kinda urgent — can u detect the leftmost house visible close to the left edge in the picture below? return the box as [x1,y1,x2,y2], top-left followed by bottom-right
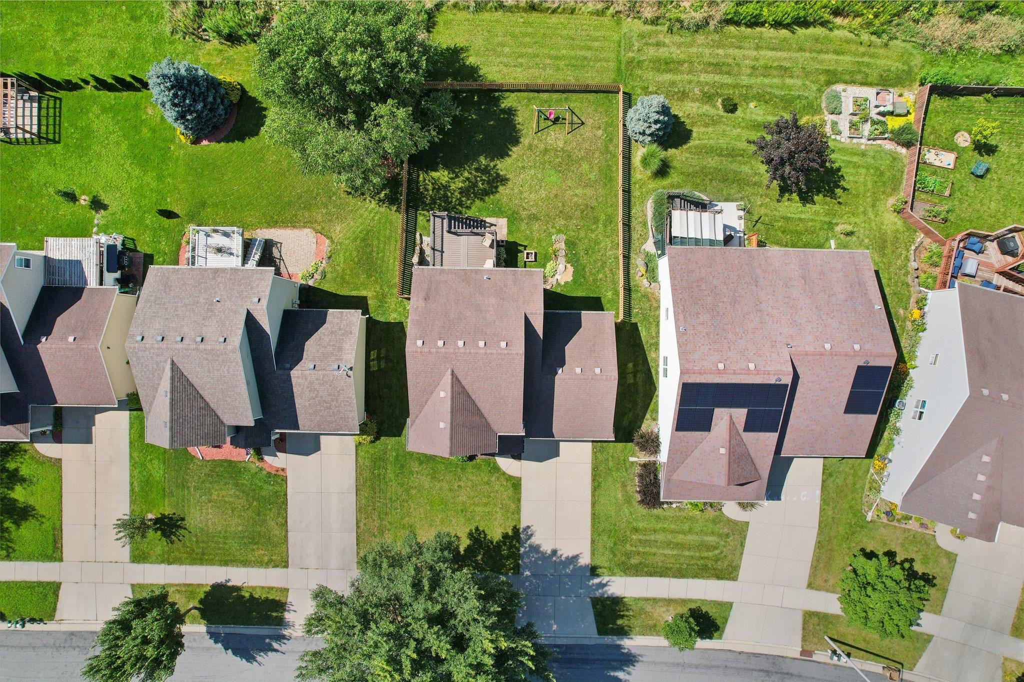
[0,241,138,442]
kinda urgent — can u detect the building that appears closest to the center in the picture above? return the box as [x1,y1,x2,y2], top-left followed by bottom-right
[403,265,619,458]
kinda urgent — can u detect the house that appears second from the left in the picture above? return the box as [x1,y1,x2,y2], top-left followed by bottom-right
[124,265,368,461]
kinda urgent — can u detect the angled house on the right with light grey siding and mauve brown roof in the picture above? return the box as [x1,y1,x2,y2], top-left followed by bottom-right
[869,281,1024,542]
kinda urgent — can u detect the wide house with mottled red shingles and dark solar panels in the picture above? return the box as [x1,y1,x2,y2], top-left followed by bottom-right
[633,242,902,501]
